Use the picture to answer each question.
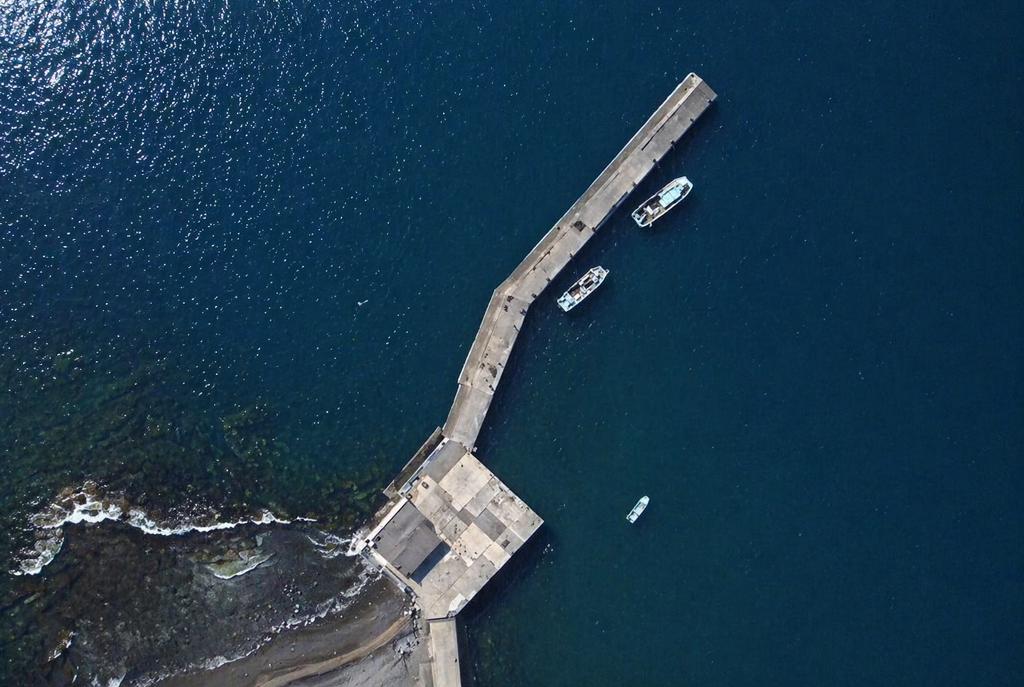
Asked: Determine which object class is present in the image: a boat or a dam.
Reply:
boat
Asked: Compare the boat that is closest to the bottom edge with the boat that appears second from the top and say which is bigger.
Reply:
the boat that appears second from the top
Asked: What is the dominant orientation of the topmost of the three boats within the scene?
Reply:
at an angle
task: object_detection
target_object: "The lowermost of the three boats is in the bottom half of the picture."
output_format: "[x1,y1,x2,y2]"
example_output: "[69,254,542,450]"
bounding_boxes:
[626,496,650,523]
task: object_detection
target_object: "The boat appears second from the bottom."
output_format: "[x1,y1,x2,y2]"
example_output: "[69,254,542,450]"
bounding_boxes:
[557,265,610,312]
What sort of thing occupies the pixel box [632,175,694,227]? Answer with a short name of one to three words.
boat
